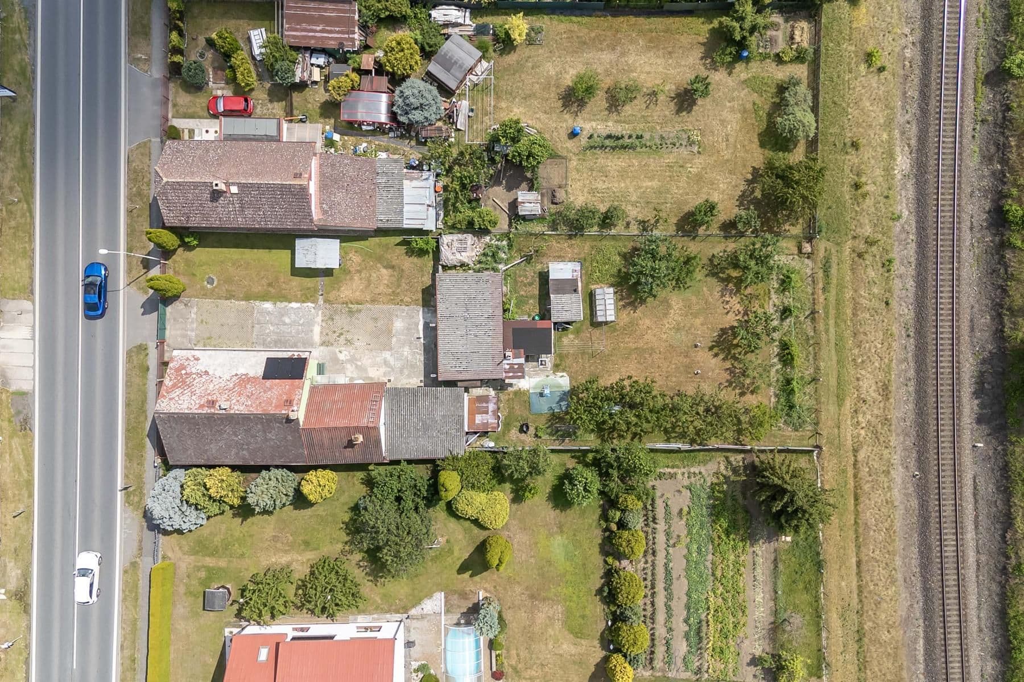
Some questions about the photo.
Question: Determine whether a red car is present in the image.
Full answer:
Yes, the picture does show a red car.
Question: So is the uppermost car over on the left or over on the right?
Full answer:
The uppermost car sits on the left side.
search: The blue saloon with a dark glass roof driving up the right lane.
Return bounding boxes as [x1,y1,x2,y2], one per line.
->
[80,263,110,318]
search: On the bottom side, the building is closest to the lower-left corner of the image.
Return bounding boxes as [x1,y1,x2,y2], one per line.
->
[201,590,227,611]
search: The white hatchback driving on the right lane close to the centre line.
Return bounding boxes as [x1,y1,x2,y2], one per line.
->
[73,550,103,604]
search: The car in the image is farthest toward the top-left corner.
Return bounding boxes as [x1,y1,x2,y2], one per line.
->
[209,92,255,117]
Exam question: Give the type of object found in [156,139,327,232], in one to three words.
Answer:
house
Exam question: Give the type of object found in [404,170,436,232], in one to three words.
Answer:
shed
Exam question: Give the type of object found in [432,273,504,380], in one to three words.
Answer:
building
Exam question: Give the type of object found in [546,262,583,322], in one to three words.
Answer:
shed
